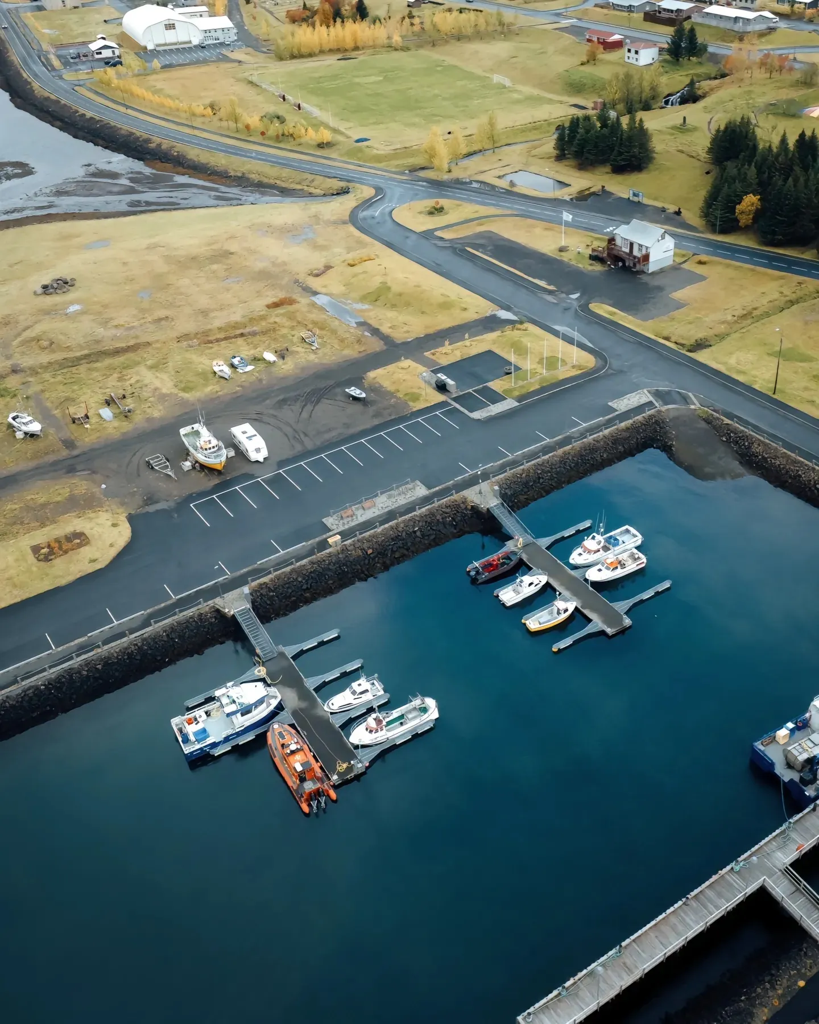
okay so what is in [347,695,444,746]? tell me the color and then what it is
white boat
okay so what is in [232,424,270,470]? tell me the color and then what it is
white camper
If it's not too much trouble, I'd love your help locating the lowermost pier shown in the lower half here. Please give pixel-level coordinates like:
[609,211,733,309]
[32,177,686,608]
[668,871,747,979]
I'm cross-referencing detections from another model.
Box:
[516,795,819,1024]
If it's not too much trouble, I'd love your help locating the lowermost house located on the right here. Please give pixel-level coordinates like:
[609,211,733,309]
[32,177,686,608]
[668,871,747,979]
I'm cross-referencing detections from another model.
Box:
[576,216,681,276]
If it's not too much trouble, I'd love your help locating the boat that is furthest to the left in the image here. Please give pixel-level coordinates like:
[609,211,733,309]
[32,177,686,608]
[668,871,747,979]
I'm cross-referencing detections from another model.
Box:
[5,411,41,436]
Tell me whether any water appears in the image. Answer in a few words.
Yes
